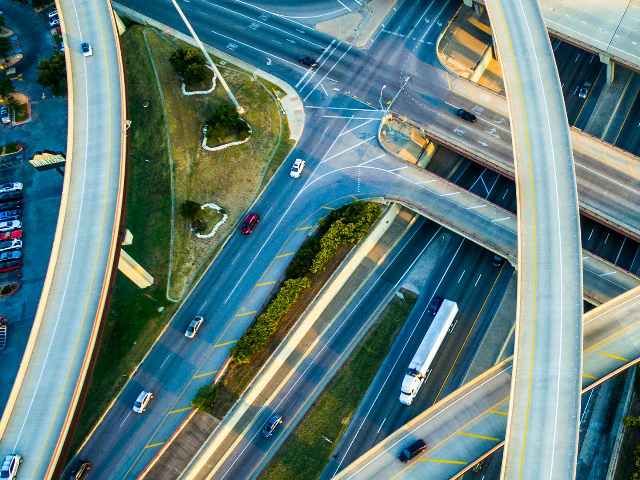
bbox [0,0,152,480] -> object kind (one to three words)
overpass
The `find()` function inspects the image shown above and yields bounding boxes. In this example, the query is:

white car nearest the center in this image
[289,158,304,178]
